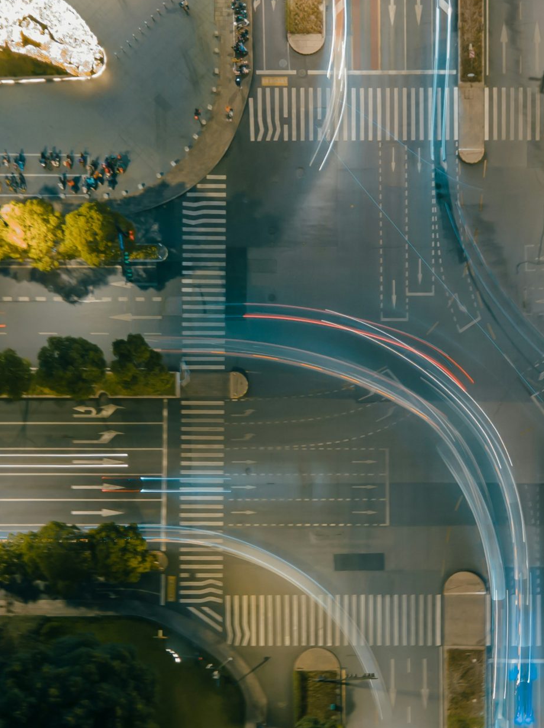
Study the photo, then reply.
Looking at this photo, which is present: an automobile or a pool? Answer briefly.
automobile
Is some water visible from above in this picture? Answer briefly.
No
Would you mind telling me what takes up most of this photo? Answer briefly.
paved ground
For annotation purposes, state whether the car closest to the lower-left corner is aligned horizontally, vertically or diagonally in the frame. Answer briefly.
horizontally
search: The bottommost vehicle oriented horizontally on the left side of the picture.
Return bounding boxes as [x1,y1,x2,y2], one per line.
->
[163,528,206,548]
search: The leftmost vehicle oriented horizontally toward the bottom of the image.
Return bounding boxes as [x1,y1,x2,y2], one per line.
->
[84,451,129,471]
